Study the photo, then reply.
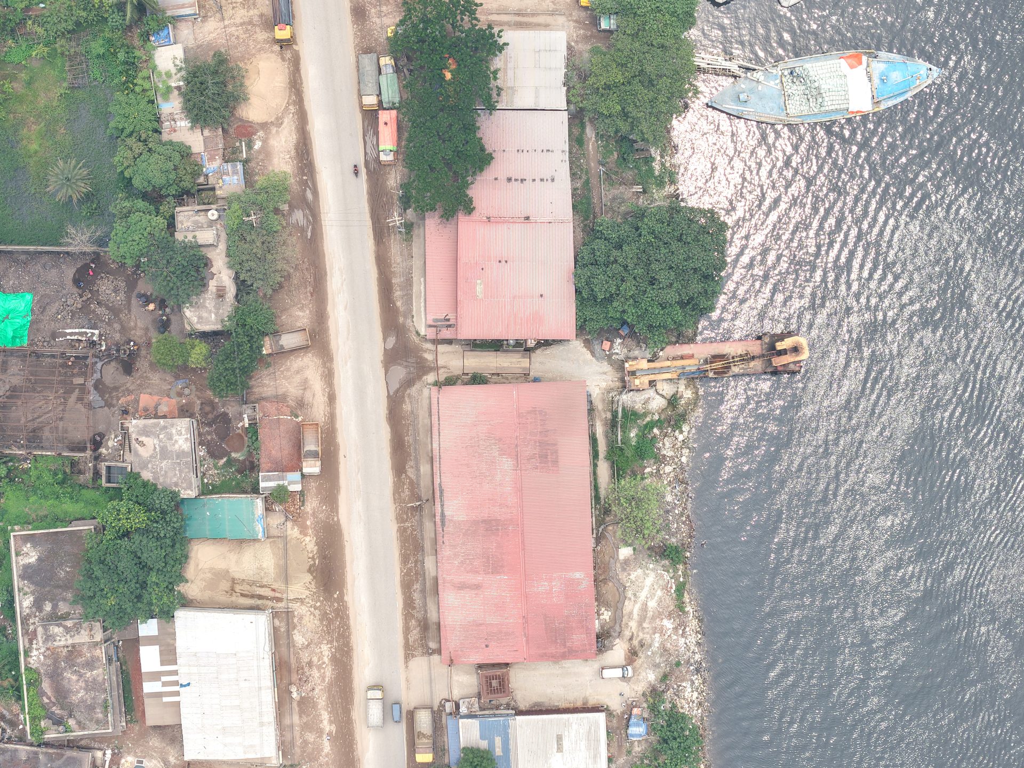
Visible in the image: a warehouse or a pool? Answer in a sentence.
This aerial view contains a warehouse.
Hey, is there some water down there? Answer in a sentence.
Yes, water shows up in the scene.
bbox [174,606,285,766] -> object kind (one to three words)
building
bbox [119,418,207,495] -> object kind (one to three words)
house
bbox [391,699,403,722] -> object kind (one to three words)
vehicle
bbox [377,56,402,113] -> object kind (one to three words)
truck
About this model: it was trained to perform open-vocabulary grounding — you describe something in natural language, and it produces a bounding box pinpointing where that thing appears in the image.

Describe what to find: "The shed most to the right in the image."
[625,708,656,741]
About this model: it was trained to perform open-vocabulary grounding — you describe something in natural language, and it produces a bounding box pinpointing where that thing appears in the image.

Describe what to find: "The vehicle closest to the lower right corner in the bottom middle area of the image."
[599,662,633,680]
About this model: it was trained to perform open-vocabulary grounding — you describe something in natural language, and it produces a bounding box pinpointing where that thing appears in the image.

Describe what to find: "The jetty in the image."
[691,52,779,76]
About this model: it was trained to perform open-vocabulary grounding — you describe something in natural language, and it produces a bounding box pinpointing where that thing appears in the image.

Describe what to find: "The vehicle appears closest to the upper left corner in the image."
[273,0,297,54]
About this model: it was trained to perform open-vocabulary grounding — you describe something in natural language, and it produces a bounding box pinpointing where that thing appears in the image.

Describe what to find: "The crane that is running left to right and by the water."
[688,336,808,372]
